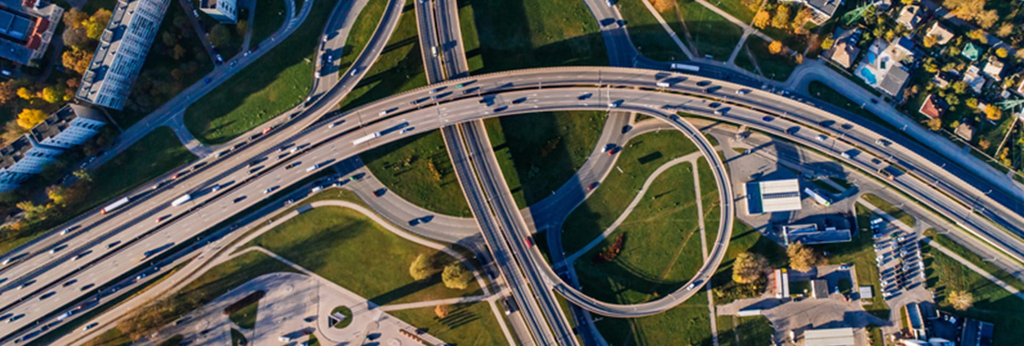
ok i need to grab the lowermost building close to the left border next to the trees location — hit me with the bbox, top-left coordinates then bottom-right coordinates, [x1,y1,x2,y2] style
[0,135,64,187]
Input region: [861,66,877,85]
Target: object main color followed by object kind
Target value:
blue swimming pool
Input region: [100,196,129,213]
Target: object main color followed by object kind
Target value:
white vehicle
